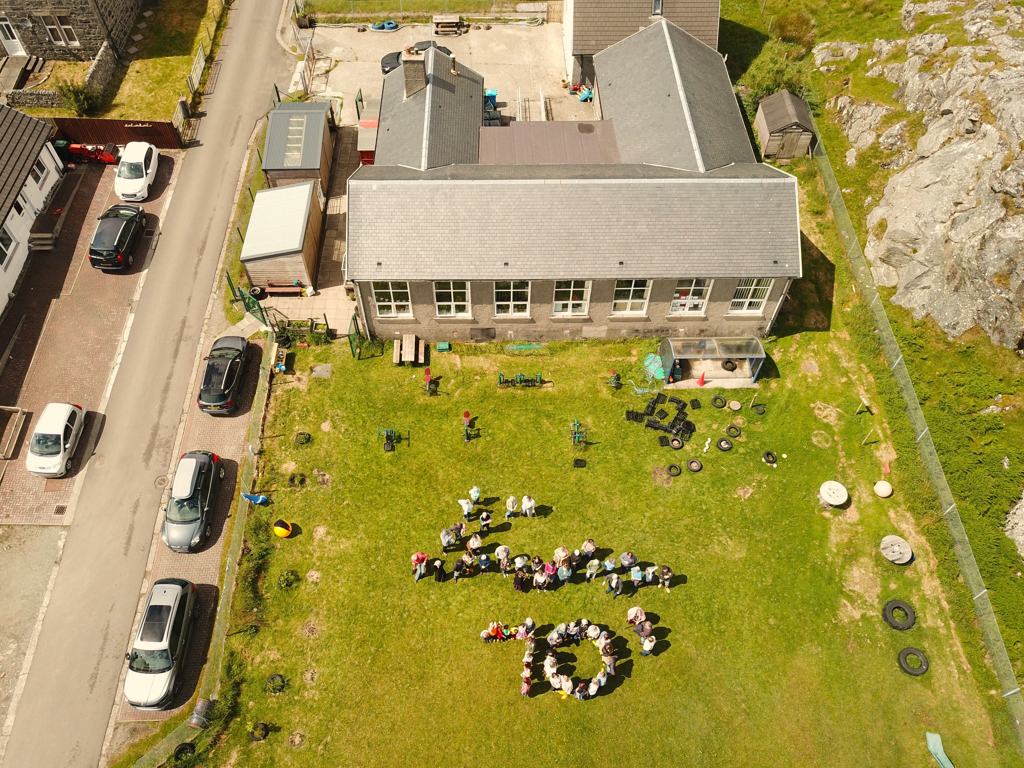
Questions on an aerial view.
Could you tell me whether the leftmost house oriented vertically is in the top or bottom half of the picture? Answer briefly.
top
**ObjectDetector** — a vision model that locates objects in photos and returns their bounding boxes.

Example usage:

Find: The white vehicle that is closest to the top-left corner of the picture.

[112,143,163,199]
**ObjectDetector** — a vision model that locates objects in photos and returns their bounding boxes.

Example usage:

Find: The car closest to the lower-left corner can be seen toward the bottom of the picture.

[119,579,204,714]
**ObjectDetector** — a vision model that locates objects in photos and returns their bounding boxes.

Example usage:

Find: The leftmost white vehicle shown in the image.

[24,401,93,478]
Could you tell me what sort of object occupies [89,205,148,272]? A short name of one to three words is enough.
car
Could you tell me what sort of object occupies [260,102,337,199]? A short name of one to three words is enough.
shed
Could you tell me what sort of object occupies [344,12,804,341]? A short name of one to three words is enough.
building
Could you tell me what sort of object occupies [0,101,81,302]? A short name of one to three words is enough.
house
